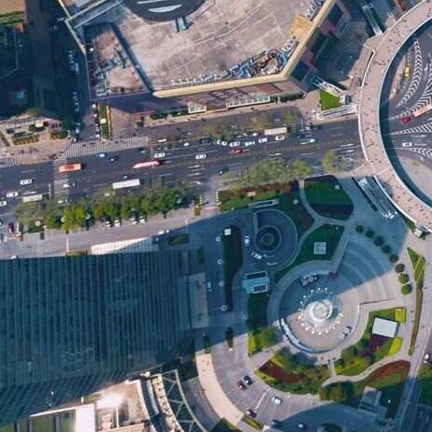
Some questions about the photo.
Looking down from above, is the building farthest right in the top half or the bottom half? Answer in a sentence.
The building farthest right sits in the bottom half of the picture.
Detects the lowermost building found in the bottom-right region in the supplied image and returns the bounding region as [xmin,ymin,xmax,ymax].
[360,385,388,421]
